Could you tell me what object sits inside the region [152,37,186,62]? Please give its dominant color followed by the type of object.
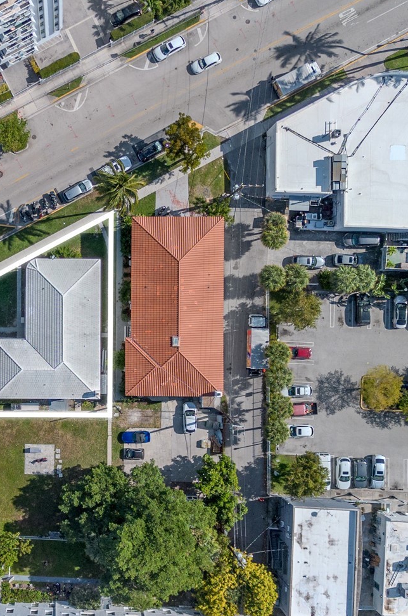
white car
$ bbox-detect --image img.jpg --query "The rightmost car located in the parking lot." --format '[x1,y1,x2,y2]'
[392,297,408,329]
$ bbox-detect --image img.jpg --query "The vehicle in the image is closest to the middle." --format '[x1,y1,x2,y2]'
[245,318,267,370]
